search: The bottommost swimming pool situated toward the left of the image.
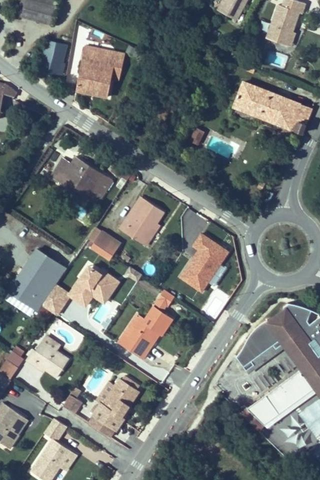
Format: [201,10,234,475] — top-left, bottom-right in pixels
[82,364,112,396]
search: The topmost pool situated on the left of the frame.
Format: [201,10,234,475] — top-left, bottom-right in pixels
[86,28,112,44]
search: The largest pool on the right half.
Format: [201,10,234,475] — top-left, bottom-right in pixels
[204,128,246,160]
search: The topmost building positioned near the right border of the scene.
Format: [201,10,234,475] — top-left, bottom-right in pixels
[266,0,306,46]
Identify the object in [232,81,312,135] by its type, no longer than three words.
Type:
house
